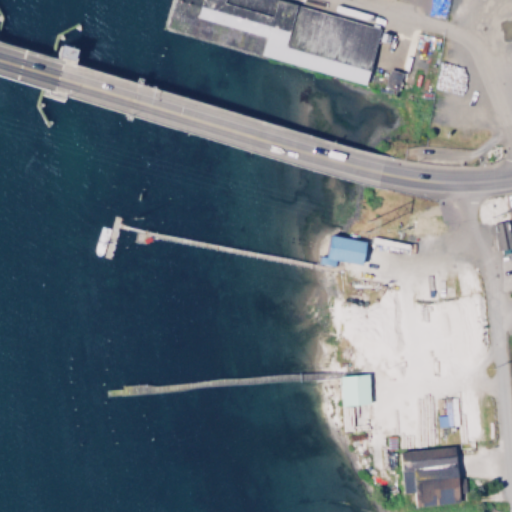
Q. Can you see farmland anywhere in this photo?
No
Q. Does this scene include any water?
Yes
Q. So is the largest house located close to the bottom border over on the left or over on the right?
right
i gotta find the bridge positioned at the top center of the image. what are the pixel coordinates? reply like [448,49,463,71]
[0,42,404,192]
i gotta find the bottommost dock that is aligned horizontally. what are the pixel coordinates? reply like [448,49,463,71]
[108,374,345,397]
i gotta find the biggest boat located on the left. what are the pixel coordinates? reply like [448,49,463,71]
[98,226,112,256]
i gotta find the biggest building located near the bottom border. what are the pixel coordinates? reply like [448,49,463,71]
[404,448,462,508]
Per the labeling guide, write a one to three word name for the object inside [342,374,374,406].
shed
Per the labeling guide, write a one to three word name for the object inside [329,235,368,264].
building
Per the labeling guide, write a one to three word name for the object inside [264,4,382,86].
building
